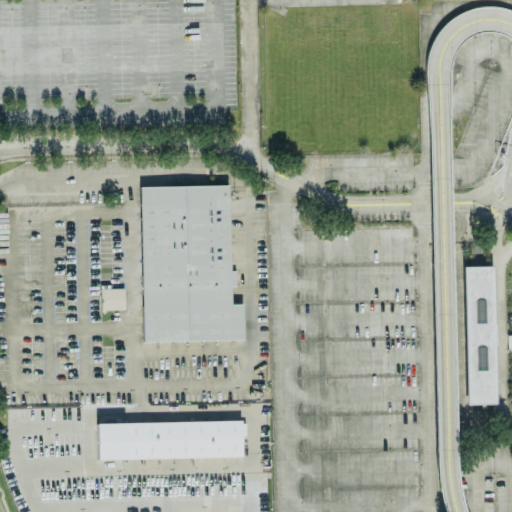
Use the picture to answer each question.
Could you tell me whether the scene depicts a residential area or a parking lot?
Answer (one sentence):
What you see here is a parking lot.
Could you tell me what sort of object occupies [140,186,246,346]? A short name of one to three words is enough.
building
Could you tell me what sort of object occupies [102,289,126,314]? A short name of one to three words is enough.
shed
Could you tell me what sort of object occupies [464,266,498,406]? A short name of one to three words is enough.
building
